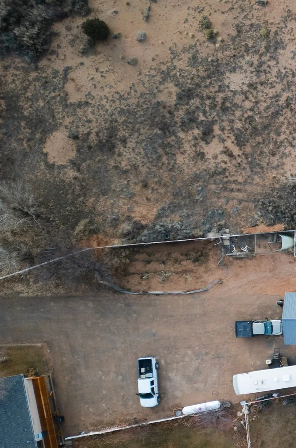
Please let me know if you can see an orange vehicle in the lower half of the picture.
No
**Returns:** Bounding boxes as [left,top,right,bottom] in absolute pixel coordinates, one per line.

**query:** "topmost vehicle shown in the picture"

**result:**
[236,317,284,339]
